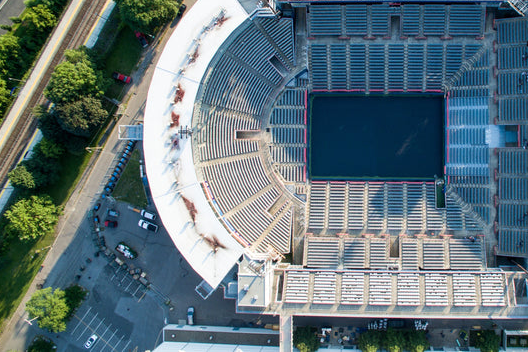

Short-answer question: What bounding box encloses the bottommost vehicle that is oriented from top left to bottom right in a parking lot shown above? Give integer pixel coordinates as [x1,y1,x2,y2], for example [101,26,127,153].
[114,241,138,259]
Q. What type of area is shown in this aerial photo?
sports ground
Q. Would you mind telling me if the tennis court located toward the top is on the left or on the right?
right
